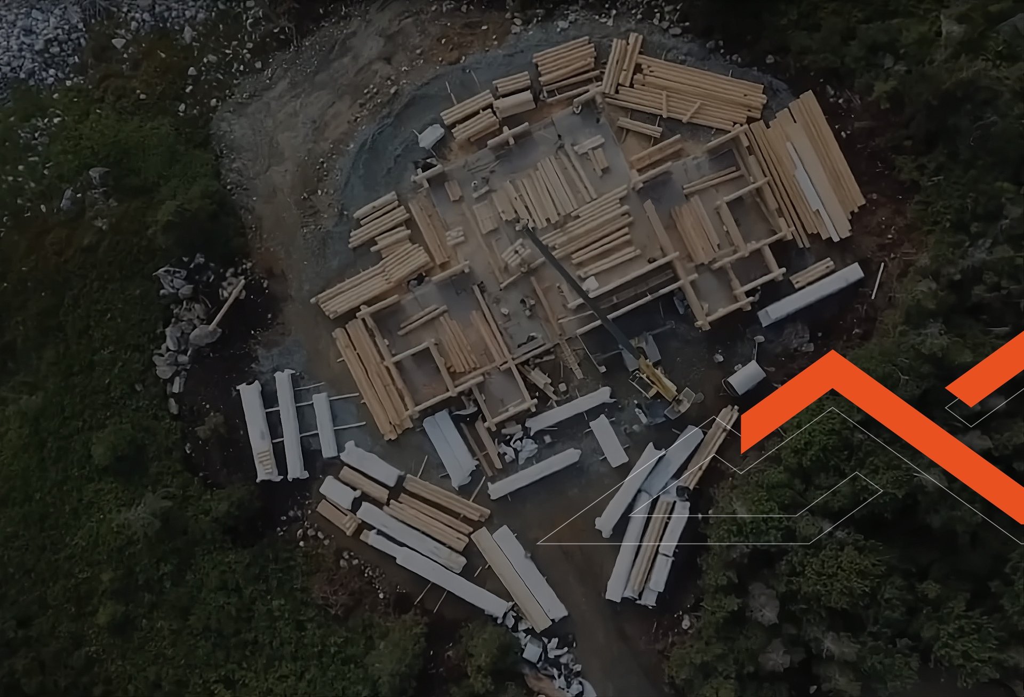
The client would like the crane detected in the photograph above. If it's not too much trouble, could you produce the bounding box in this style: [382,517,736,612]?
[511,213,696,420]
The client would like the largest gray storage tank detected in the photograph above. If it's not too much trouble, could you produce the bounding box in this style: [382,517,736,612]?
[723,359,768,399]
